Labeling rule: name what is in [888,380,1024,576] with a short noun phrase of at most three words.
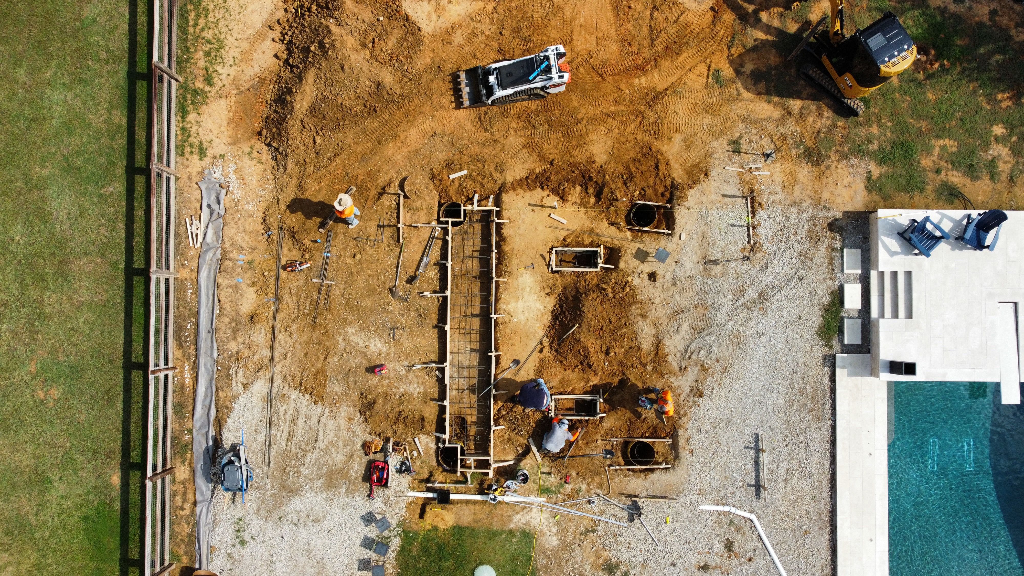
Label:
swimming pool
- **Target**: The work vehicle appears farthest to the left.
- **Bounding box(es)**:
[457,45,572,109]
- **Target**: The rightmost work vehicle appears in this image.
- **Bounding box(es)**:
[787,0,921,120]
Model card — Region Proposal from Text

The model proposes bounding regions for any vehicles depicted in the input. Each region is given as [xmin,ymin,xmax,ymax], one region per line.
[457,45,572,109]
[787,0,921,120]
